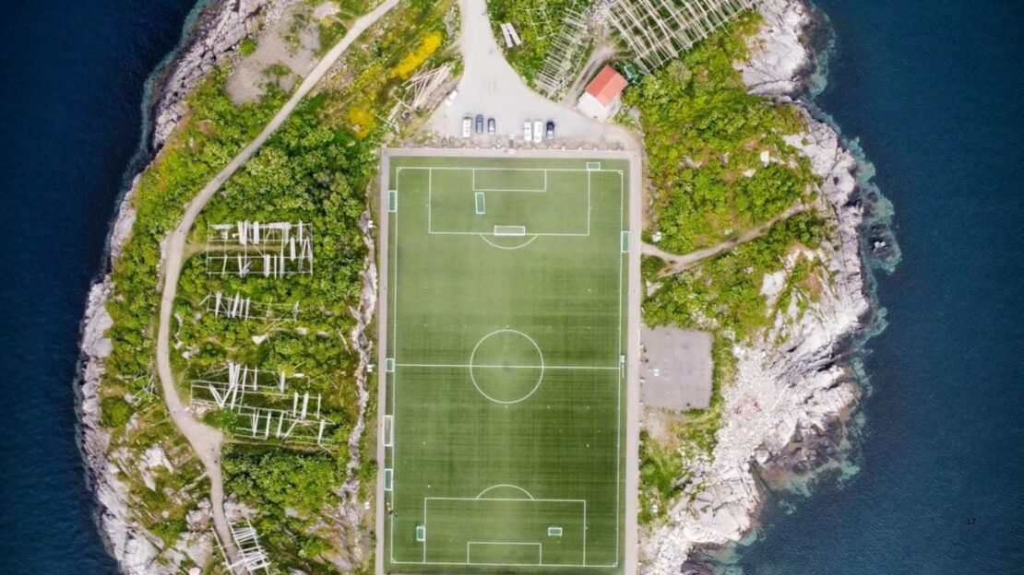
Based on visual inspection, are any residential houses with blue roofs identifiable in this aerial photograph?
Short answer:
No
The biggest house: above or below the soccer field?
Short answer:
above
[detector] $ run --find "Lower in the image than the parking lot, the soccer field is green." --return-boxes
[381,154,631,575]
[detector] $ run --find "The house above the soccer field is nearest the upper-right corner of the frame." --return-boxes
[579,64,627,119]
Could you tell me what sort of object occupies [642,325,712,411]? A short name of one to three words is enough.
sports court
